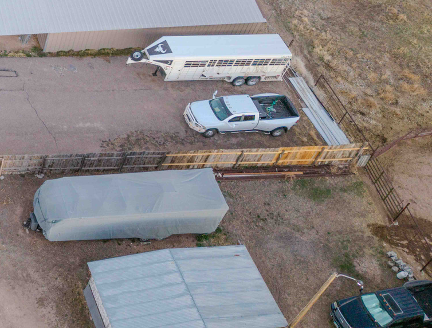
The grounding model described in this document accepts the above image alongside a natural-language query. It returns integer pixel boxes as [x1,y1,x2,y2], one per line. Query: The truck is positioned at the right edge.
[322,270,432,328]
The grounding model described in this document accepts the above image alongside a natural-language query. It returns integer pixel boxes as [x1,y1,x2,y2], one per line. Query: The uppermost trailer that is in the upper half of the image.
[125,37,296,85]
